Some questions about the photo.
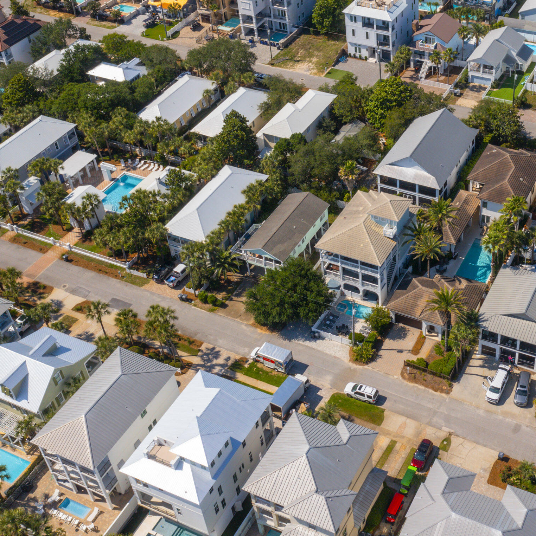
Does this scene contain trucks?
Yes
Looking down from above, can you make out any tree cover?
Yes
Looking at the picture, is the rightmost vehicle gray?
Yes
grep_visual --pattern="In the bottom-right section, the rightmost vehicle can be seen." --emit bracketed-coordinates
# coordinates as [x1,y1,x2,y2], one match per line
[513,375,533,409]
